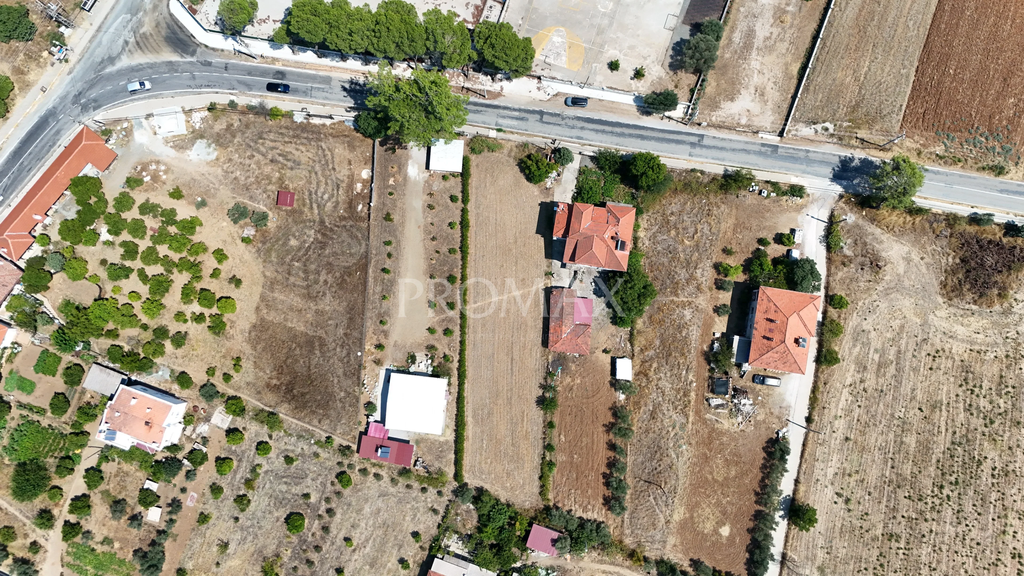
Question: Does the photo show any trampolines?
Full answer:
No, there appears to be no trampoline in this shot.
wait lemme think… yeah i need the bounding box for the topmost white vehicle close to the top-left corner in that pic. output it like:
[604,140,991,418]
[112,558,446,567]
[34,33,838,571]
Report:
[122,78,151,93]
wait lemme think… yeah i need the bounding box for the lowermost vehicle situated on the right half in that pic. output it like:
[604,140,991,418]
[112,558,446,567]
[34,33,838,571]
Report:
[753,374,782,387]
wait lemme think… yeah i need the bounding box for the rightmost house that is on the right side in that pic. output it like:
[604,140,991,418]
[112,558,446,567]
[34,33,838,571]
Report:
[745,286,822,375]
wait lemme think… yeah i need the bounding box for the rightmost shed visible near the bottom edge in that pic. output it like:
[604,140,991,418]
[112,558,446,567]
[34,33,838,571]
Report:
[526,521,562,556]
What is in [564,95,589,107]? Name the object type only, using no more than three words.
vehicle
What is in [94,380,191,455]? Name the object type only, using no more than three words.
house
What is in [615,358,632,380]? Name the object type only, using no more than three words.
shed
